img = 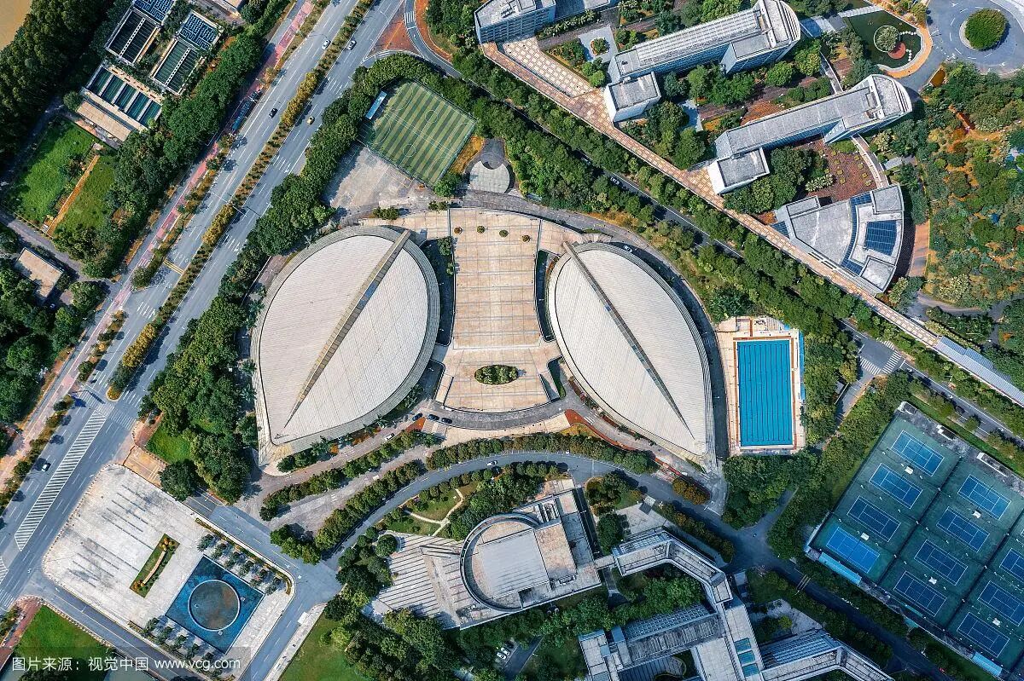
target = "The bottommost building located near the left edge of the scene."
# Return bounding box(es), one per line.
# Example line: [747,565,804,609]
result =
[16,248,68,301]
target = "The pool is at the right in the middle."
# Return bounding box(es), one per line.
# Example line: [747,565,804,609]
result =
[715,316,805,454]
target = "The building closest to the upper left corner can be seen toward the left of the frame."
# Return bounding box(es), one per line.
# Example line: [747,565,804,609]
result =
[76,100,136,141]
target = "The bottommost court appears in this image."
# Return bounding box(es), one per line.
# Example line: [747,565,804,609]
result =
[956,613,1010,658]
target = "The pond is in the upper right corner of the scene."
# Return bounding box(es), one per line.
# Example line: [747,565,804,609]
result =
[843,0,924,72]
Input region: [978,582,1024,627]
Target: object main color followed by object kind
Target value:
blue tennis court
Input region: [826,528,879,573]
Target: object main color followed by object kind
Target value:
blue tennis court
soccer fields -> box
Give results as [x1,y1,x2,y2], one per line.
[362,82,475,185]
